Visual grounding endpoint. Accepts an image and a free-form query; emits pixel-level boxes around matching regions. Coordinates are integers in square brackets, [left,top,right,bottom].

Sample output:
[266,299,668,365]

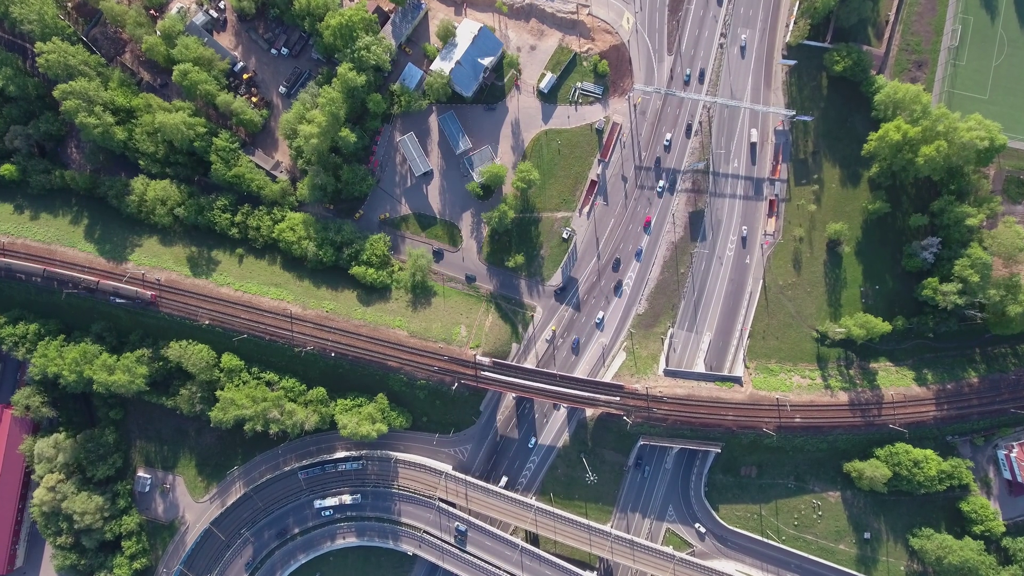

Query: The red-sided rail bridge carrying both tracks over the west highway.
[459,355,626,417]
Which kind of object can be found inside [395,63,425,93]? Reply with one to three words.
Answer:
building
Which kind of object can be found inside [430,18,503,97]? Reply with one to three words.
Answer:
house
